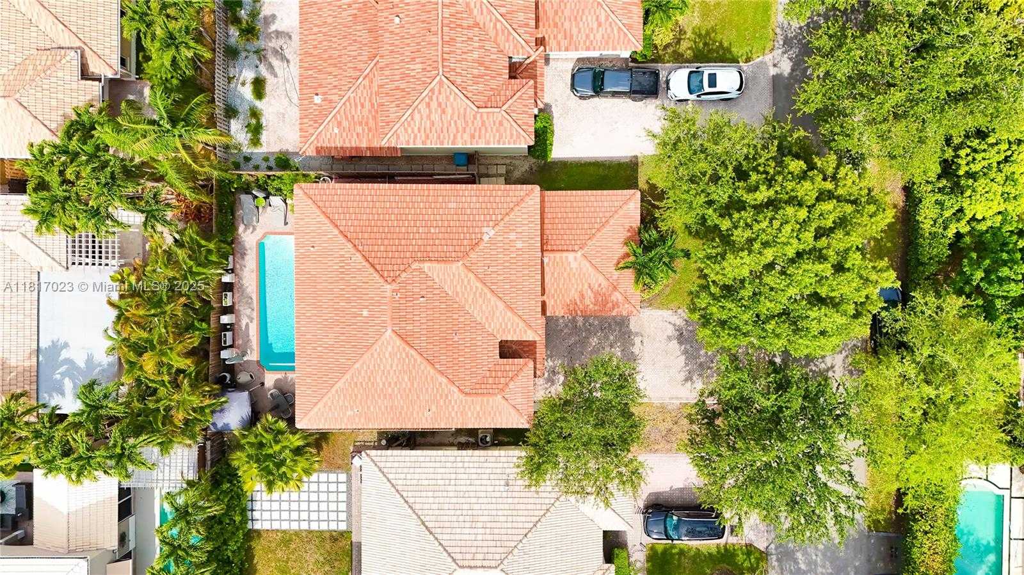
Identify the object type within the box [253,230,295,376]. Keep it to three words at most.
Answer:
swimming pool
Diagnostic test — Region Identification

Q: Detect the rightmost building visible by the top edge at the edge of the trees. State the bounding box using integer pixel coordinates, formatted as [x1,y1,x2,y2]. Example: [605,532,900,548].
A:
[298,0,644,157]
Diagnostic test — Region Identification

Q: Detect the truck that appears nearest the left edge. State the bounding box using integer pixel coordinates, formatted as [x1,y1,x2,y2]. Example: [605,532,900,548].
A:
[571,63,661,103]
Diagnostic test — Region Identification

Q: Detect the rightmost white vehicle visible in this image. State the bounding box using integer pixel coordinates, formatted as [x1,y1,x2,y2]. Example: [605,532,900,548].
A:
[666,63,745,103]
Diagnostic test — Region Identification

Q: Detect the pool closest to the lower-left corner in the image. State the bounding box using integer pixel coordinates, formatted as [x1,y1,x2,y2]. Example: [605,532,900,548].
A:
[156,485,204,575]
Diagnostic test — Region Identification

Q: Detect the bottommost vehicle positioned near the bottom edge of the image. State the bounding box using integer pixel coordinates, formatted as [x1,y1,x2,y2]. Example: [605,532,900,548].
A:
[643,505,726,547]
